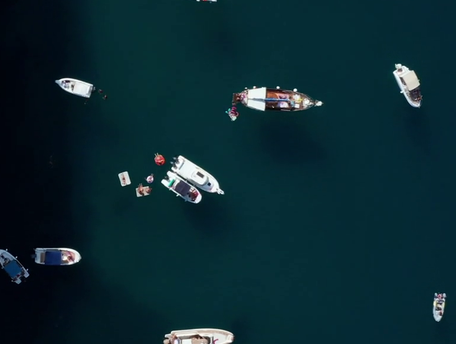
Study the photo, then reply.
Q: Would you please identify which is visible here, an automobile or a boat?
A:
boat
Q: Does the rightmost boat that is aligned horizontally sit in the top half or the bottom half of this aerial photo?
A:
top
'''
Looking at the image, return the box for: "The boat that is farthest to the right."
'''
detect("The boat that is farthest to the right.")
[431,292,447,324]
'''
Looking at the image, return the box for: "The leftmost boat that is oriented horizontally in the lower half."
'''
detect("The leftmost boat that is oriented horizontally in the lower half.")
[30,248,81,269]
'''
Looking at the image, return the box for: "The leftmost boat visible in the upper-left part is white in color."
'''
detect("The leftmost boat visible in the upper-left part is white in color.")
[53,79,96,98]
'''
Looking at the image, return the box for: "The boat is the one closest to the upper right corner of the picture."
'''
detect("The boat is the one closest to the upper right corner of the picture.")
[390,63,423,107]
